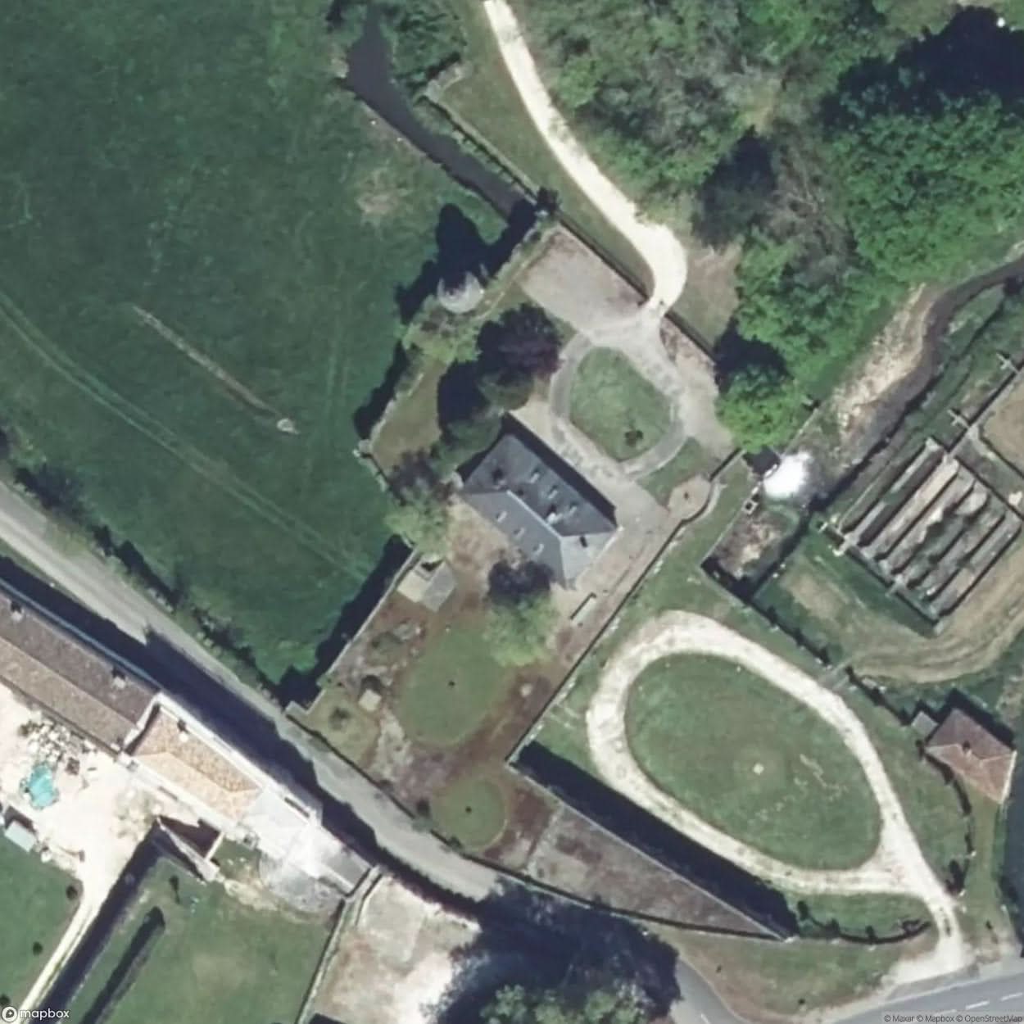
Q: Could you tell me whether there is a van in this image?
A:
No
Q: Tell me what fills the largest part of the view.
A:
grass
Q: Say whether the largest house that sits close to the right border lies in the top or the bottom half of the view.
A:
bottom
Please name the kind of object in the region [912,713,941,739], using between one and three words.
shed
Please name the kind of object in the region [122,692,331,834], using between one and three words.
house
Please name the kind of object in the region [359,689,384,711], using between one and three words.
shed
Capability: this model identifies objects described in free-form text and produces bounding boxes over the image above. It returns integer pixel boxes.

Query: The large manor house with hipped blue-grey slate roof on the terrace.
[460,432,620,584]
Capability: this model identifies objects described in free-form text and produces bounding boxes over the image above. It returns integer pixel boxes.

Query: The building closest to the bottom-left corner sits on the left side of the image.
[7,821,41,851]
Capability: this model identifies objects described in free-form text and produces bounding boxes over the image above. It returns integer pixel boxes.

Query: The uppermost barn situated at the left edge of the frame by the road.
[0,579,164,758]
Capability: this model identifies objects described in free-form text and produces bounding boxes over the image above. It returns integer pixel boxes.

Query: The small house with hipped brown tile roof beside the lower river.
[925,708,1021,805]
